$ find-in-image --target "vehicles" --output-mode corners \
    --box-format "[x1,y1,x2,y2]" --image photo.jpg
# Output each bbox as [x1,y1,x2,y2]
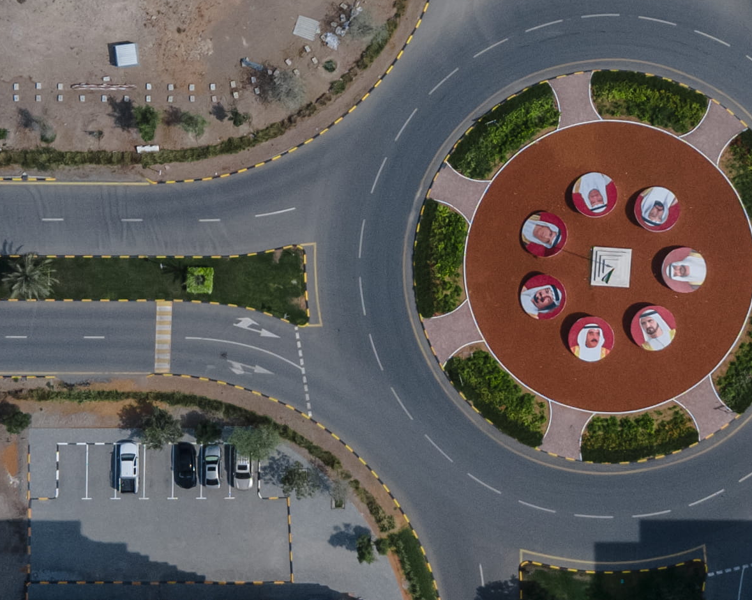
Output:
[116,440,140,493]
[201,443,223,490]
[172,441,198,490]
[231,442,254,491]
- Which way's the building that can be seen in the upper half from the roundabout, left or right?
left of it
